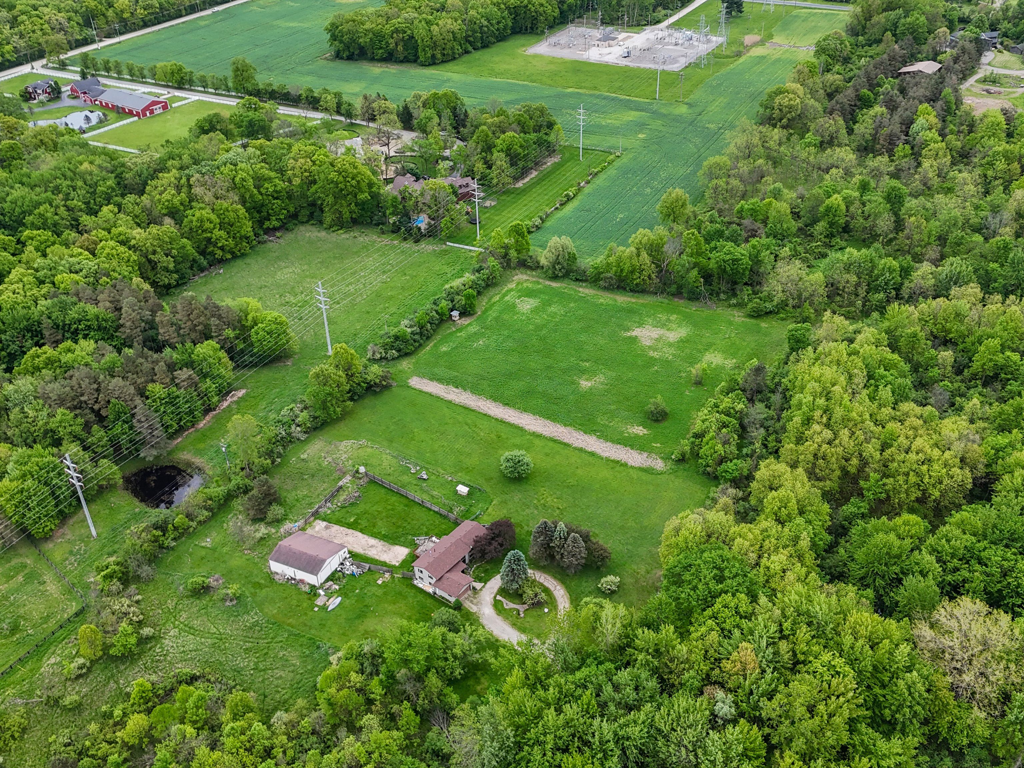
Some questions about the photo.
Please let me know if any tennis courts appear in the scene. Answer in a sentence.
No, no tennis court is visible in the scene.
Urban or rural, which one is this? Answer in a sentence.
The land in this view is best described as rural.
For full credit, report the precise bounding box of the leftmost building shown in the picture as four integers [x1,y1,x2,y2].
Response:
[25,80,55,102]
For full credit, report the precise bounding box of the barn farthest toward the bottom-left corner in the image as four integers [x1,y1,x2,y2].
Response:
[268,529,344,586]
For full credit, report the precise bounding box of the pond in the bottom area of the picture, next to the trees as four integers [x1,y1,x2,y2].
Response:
[126,463,205,509]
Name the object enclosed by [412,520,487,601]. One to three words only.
house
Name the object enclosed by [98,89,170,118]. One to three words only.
barn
